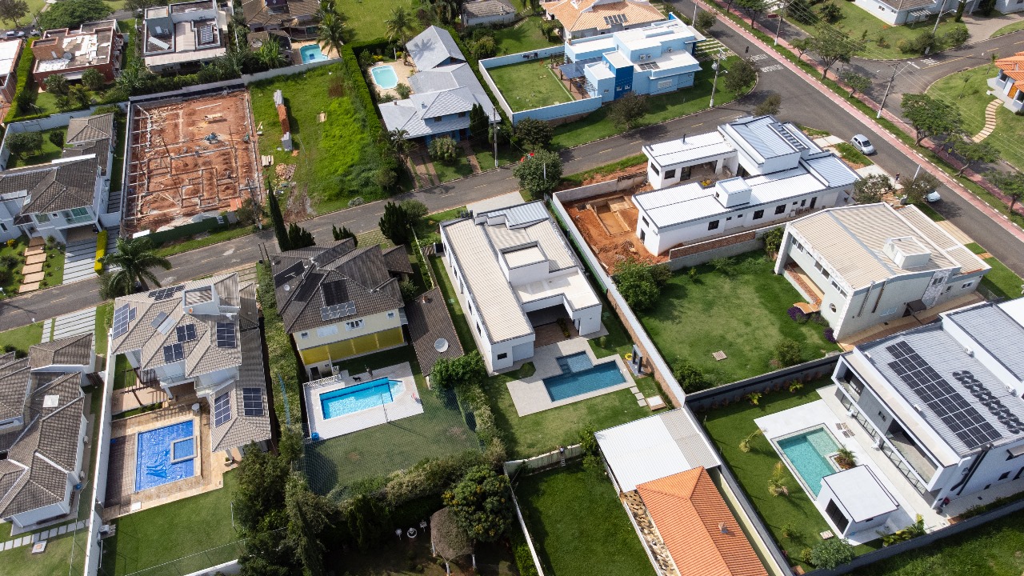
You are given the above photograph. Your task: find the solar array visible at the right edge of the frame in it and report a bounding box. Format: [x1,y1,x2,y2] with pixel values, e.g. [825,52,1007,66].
[885,341,1001,447]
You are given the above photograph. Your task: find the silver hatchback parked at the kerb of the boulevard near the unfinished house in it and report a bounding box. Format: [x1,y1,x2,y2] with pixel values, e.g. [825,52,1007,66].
[855,135,876,151]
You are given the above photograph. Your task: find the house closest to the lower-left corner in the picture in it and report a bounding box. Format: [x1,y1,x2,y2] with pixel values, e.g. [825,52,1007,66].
[0,332,104,531]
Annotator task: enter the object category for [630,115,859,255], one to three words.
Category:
house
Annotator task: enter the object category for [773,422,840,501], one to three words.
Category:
swimming pool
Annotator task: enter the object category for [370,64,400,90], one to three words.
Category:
swimming pool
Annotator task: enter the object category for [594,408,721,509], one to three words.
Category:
shed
